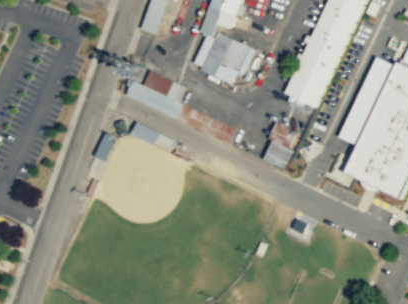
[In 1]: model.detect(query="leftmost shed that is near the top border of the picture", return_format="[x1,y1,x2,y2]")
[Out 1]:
[140,0,169,35]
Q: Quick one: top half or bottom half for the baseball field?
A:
bottom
